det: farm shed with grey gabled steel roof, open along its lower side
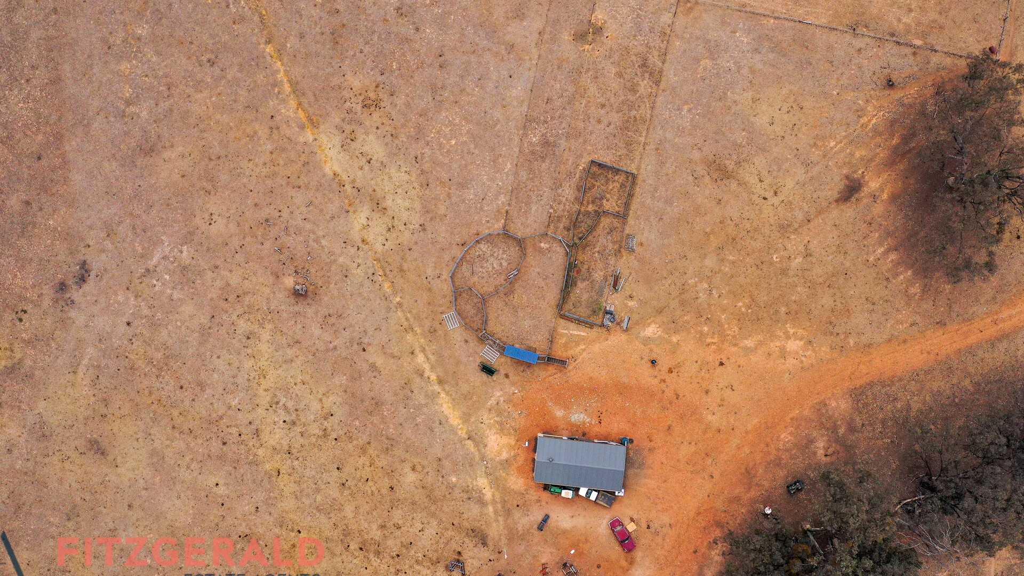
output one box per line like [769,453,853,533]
[533,435,627,493]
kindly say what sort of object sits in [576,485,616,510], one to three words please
truck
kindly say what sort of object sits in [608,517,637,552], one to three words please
car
